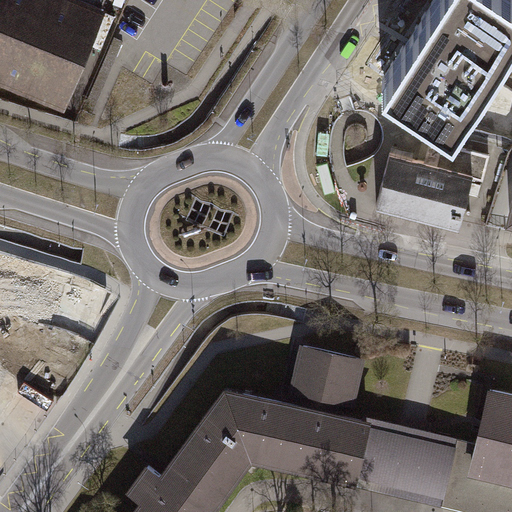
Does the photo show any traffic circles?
Yes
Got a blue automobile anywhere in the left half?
Yes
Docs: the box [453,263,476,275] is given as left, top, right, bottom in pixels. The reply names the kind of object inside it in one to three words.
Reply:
vehicle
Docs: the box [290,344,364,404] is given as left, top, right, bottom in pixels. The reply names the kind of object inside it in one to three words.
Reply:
building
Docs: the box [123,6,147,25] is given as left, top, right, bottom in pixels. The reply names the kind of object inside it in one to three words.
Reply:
car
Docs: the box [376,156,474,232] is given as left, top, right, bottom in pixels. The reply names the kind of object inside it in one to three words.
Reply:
house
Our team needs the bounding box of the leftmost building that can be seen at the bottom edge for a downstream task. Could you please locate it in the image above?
[128,389,370,512]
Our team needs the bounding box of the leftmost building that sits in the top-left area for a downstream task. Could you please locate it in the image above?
[0,0,104,112]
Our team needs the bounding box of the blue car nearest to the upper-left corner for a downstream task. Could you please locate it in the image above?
[118,20,138,36]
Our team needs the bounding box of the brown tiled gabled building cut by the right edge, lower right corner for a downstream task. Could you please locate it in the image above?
[468,386,512,487]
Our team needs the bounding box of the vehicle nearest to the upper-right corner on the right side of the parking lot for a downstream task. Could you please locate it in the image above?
[340,35,358,58]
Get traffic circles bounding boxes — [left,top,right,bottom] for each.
[117,141,290,302]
